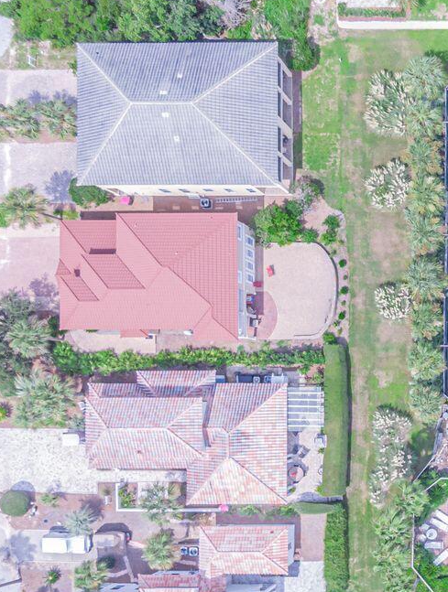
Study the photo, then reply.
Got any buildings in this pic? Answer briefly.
Yes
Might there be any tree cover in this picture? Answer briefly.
Yes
